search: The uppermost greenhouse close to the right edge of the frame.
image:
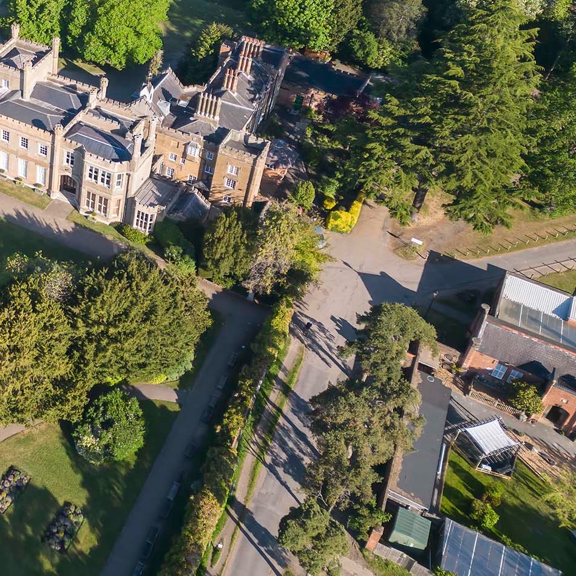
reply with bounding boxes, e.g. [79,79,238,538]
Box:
[489,265,576,347]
